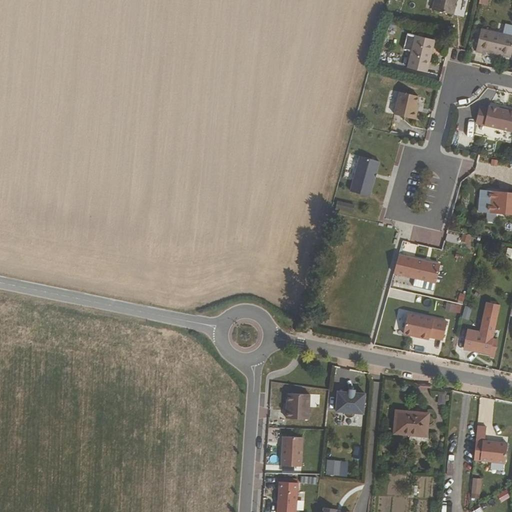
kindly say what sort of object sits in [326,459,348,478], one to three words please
shed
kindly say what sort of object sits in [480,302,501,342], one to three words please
house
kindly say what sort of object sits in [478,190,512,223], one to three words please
house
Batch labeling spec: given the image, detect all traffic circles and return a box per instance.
[211,304,282,376]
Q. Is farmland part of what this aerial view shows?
Yes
